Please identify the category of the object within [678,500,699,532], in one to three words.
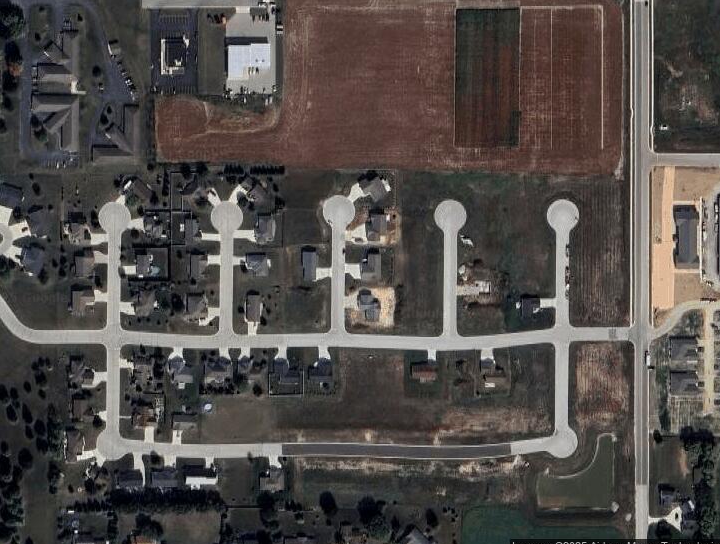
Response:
house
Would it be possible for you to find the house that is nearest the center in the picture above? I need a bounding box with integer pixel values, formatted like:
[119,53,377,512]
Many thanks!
[360,252,380,284]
